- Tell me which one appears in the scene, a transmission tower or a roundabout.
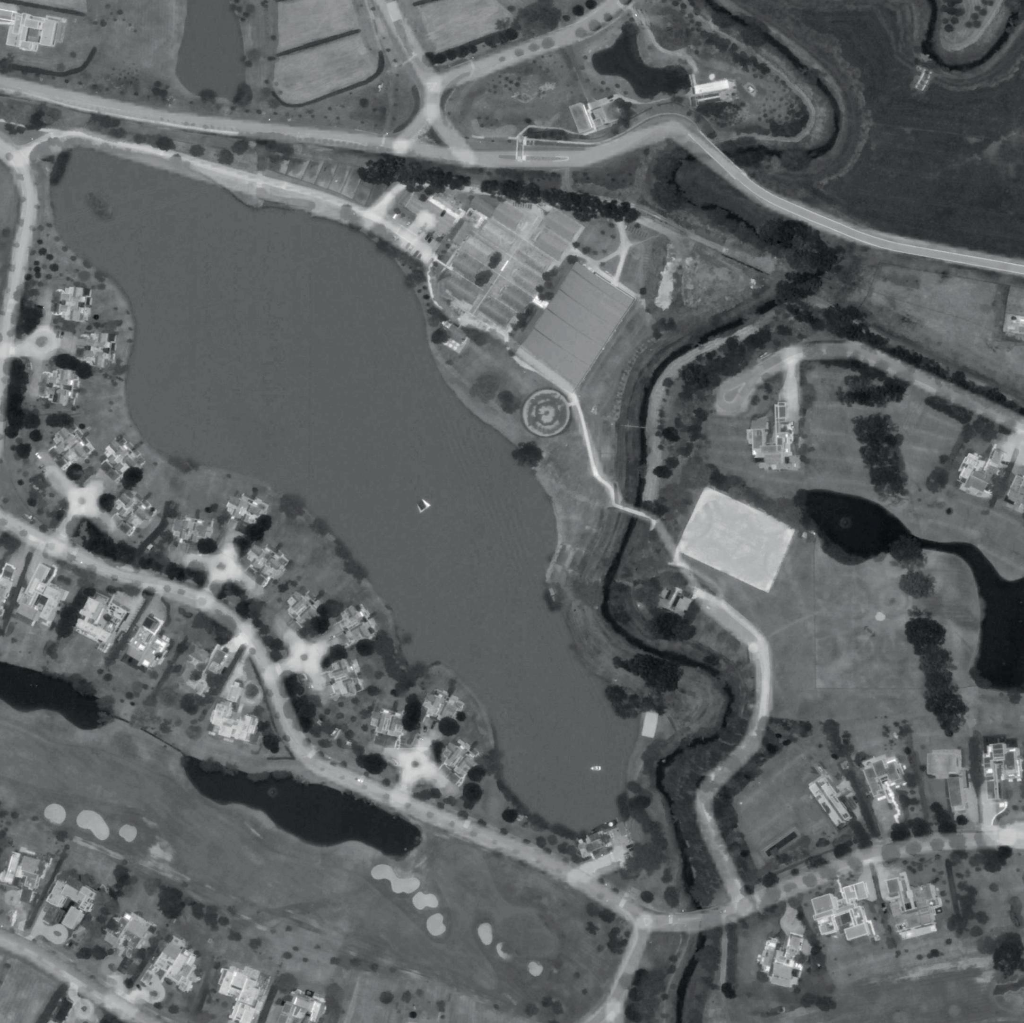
roundabout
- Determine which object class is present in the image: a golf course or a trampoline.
golf course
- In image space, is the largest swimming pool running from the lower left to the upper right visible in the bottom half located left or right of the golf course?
to the right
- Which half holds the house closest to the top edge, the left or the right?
left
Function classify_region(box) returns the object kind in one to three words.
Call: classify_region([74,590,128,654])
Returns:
house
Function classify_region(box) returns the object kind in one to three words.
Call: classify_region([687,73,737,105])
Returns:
building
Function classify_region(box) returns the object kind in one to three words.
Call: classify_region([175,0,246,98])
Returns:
pond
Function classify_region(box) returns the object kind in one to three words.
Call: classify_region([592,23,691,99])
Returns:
pond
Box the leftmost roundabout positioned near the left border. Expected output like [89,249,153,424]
[0,327,60,361]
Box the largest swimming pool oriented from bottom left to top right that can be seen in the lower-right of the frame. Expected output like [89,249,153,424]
[765,830,799,858]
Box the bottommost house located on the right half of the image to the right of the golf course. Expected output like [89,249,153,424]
[757,932,805,988]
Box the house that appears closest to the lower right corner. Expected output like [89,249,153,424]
[886,877,943,941]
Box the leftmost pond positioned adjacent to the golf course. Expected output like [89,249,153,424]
[0,662,113,730]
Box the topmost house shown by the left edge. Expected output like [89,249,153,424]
[0,5,66,51]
